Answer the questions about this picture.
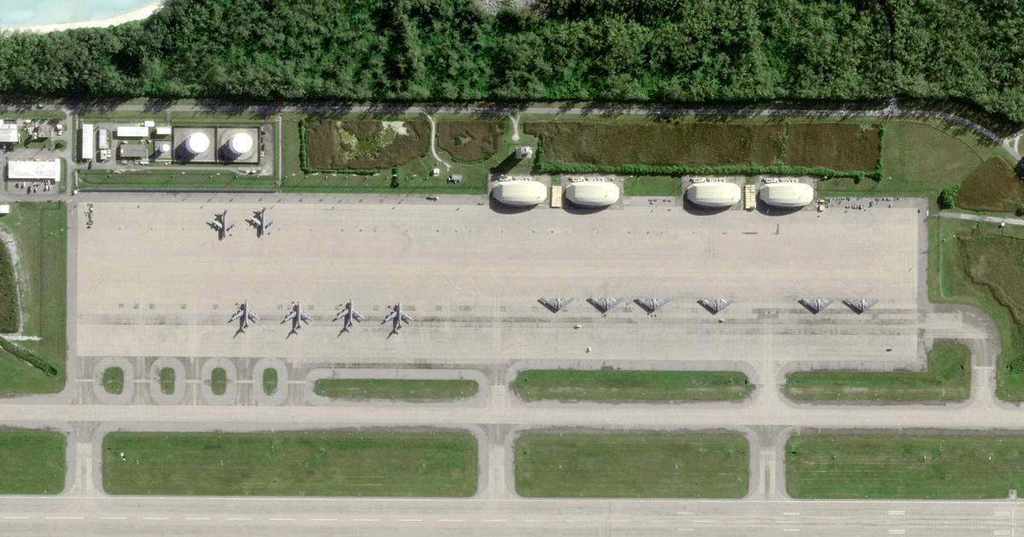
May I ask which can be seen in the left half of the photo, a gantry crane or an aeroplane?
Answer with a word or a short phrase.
aeroplane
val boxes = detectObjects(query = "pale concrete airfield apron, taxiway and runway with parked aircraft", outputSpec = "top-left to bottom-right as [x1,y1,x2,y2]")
[0,174,1024,537]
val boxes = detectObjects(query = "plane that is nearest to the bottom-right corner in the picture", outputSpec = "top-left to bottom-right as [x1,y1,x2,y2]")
[846,299,880,313]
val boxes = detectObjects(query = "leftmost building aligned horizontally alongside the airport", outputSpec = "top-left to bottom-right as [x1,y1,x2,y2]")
[7,161,55,178]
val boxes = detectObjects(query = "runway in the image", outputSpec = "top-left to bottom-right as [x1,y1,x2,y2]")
[0,495,1024,537]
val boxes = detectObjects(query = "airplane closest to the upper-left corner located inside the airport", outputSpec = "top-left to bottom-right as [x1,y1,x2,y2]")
[213,210,239,238]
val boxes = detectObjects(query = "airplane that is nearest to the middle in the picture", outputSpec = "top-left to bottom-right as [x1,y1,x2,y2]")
[542,298,575,311]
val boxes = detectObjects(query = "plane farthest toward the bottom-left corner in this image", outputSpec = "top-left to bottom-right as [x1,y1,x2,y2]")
[233,300,260,326]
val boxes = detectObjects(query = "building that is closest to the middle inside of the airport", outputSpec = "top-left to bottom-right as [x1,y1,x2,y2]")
[492,182,546,208]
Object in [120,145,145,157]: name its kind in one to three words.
building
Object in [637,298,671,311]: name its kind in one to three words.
airplane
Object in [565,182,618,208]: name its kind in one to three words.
hangar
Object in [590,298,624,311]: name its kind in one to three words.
airplane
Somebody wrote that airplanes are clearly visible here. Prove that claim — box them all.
[387,303,413,329]
[590,298,624,311]
[802,299,836,313]
[251,208,277,235]
[233,300,260,326]
[637,298,671,311]
[846,299,880,313]
[286,302,312,328]
[213,210,239,238]
[542,298,575,311]
[701,299,735,313]
[338,300,365,326]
